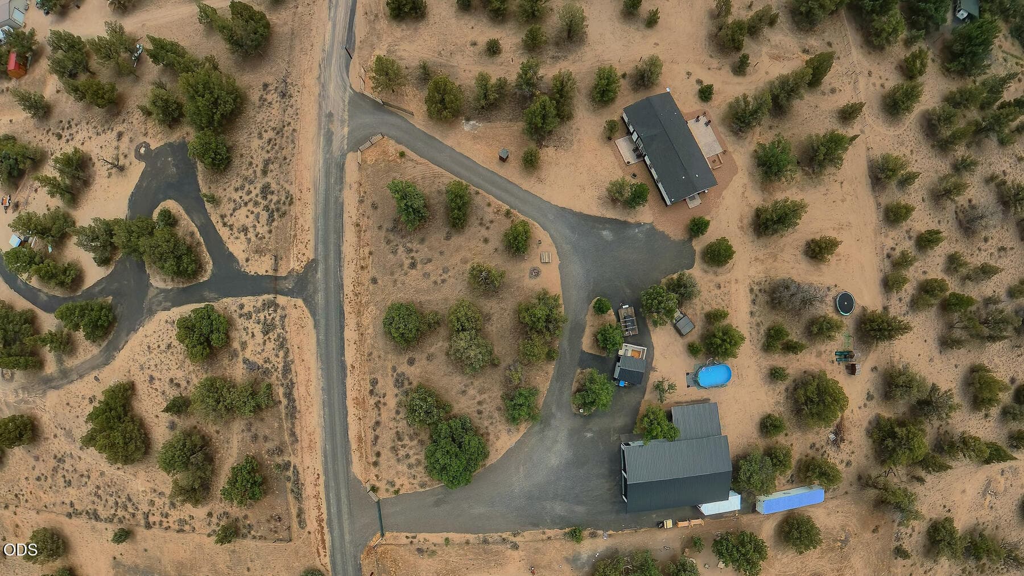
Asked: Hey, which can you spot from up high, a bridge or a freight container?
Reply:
freight container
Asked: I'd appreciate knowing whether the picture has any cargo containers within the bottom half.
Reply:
Yes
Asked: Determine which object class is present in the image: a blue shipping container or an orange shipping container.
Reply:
blue shipping container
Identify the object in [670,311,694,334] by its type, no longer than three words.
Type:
car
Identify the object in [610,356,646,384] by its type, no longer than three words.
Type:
shed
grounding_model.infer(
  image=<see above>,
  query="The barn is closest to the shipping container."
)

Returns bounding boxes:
[618,435,733,513]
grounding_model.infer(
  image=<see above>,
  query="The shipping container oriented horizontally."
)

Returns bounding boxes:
[756,486,826,515]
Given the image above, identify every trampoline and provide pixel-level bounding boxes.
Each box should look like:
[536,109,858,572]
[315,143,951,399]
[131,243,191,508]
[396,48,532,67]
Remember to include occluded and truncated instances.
[836,291,855,315]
